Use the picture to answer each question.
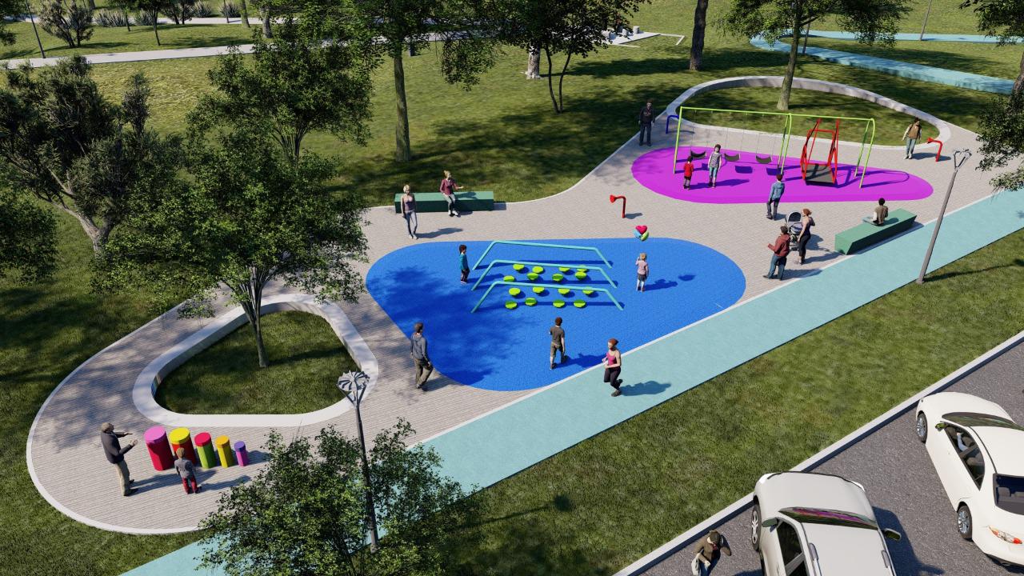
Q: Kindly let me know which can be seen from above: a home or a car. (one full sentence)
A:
Visible in the photo is a car.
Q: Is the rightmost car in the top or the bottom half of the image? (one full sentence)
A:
It is in the bottom half that the rightmost car appears.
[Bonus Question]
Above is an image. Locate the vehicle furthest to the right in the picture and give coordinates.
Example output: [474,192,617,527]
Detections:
[920,395,1024,572]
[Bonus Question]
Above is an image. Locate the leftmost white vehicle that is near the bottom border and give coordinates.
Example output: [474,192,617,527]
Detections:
[753,472,895,576]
